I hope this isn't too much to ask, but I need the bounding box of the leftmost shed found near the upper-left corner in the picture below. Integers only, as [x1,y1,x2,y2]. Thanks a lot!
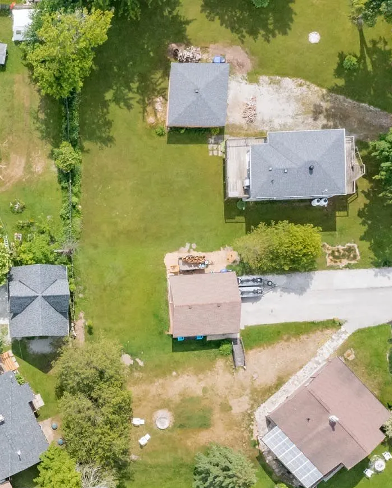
[11,8,37,49]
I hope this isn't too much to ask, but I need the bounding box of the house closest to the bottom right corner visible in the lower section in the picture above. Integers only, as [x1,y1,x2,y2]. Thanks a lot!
[255,356,390,488]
